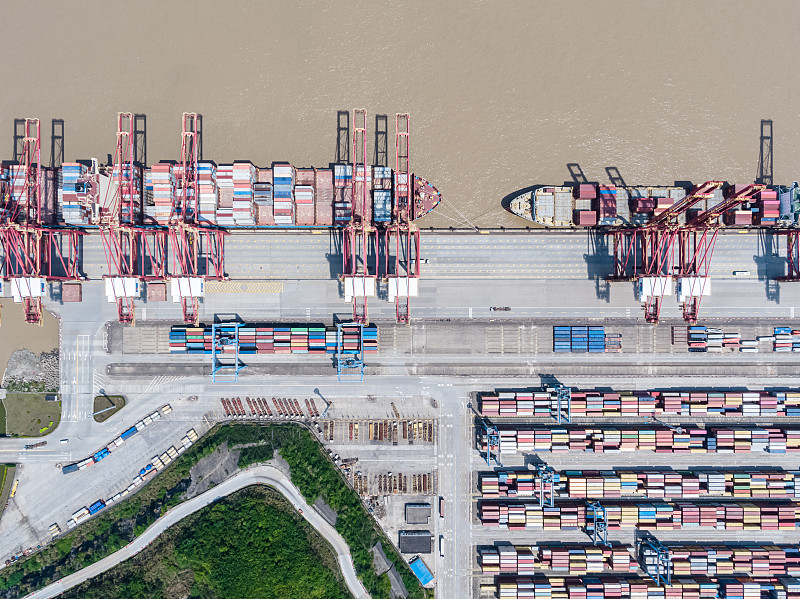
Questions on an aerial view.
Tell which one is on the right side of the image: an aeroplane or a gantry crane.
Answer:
gantry crane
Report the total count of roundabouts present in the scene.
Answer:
0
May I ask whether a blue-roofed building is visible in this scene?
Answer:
Yes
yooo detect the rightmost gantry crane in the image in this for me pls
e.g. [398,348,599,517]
[767,226,800,281]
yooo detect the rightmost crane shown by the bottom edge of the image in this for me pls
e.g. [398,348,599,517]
[640,535,672,587]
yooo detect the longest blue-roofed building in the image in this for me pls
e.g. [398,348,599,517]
[409,555,434,587]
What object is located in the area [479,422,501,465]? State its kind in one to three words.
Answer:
container crane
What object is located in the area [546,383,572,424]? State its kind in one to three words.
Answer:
container crane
